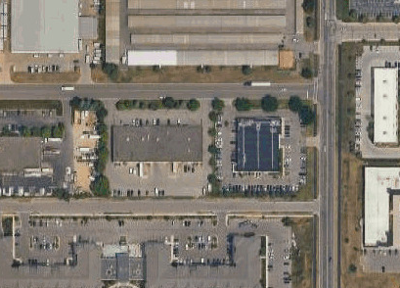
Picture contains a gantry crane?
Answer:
No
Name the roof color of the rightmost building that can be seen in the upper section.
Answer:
white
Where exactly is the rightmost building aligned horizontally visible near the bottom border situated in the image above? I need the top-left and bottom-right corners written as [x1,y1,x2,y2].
[142,236,261,288]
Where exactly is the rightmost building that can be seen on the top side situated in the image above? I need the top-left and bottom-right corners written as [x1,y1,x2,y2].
[373,66,398,142]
